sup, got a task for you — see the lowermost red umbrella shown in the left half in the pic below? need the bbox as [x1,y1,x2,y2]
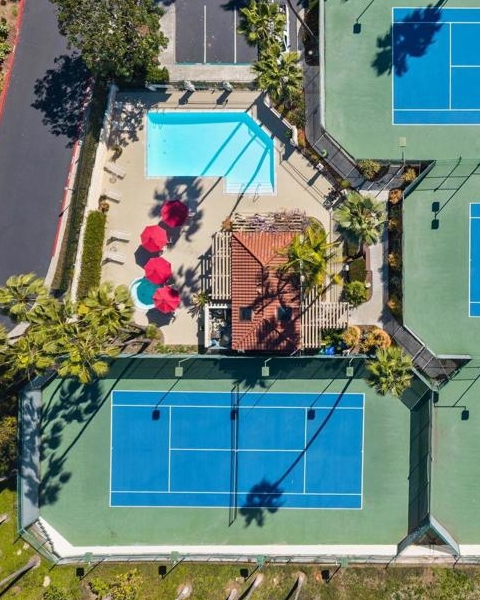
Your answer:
[154,286,180,312]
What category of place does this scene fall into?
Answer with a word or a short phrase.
sports ground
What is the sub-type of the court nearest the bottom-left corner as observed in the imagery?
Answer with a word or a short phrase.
tennis court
